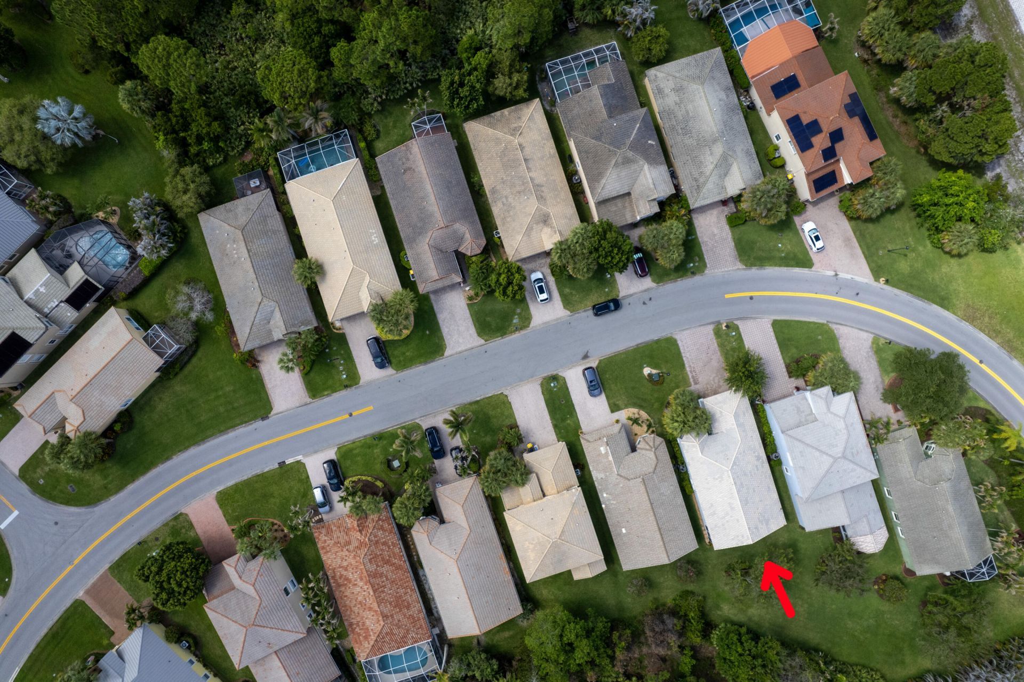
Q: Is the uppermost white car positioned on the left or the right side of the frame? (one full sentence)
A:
The uppermost white car is on the right side of the image.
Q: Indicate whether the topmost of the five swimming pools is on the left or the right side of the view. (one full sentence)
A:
It is on the right.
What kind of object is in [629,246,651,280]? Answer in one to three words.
car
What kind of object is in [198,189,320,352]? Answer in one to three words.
house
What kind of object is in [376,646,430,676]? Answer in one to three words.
swimming pool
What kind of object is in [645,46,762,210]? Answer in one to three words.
house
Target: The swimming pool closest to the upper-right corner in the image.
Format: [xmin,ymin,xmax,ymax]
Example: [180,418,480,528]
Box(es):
[727,0,820,49]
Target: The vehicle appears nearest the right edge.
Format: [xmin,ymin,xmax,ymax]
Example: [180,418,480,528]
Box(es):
[799,220,825,253]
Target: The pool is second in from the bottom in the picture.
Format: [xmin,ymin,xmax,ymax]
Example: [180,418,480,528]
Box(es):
[74,228,132,272]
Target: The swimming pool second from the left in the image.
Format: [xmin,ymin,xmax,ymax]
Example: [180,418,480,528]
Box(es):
[288,147,353,180]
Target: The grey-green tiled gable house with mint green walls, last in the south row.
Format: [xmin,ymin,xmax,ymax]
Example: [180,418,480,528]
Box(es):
[867,426,993,575]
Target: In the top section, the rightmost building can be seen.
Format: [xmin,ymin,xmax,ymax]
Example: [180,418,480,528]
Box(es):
[741,20,887,201]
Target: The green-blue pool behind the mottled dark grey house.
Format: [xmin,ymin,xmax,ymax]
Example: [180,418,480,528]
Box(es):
[551,55,615,96]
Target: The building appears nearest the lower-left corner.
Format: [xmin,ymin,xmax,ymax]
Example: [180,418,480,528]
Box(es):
[84,620,238,682]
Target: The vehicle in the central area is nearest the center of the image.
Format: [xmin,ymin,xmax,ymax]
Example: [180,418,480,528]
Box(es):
[530,270,551,304]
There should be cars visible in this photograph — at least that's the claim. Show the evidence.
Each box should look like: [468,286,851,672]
[423,425,446,459]
[530,270,551,304]
[589,298,623,317]
[799,220,825,253]
[365,335,392,368]
[311,483,333,514]
[629,246,651,280]
[581,365,602,398]
[321,458,345,492]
